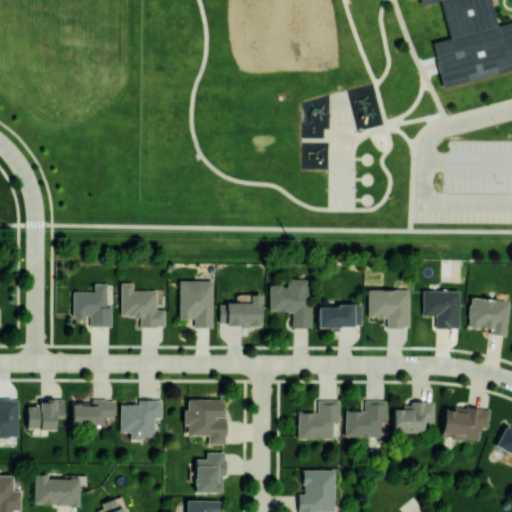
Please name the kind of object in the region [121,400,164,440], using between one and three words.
house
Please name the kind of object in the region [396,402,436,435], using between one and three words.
house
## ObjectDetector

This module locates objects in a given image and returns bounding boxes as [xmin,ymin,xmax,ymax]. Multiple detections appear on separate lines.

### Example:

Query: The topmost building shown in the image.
[420,0,512,88]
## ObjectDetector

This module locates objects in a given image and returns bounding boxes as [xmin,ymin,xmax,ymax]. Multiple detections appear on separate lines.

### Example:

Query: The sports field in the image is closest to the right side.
[139,0,196,204]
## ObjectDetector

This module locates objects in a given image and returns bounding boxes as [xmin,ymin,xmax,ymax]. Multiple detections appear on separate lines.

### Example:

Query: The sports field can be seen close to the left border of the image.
[0,0,128,126]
